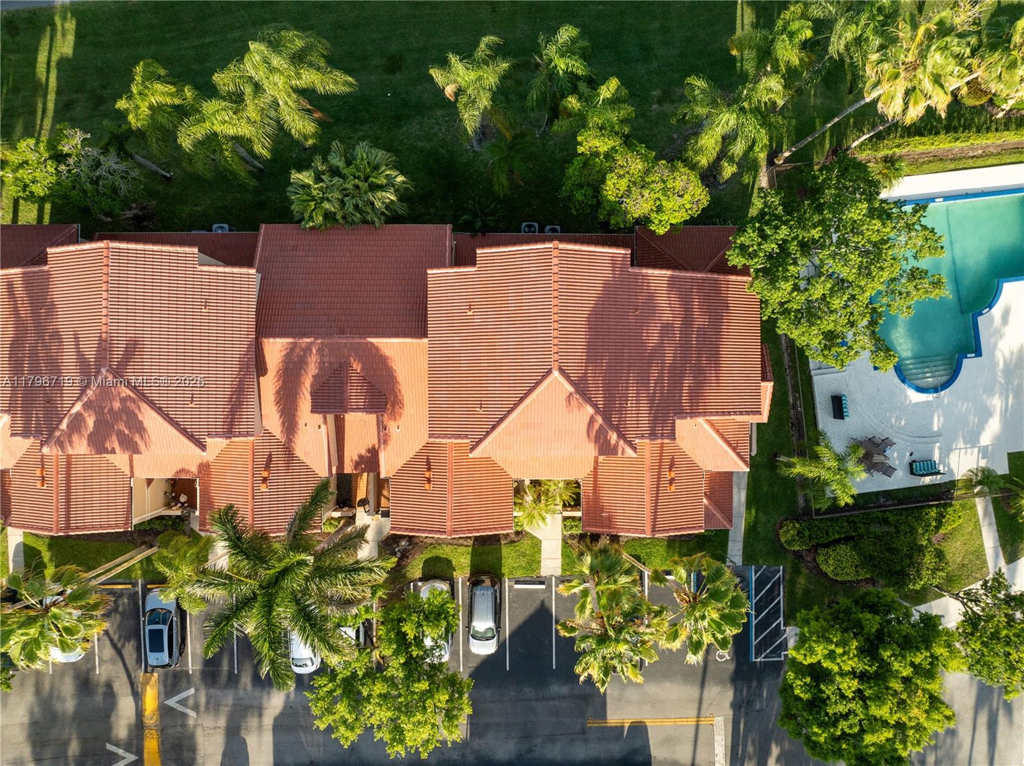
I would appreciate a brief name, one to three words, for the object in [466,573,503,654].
car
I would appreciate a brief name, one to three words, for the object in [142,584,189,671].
car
